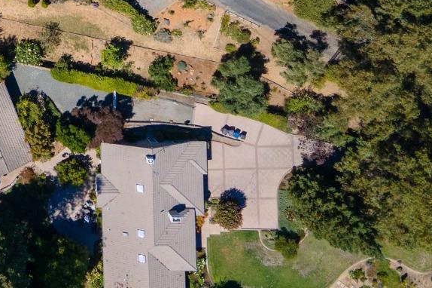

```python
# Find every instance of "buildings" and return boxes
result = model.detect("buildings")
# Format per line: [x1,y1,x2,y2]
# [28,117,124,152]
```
[94,133,209,288]
[0,82,32,176]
